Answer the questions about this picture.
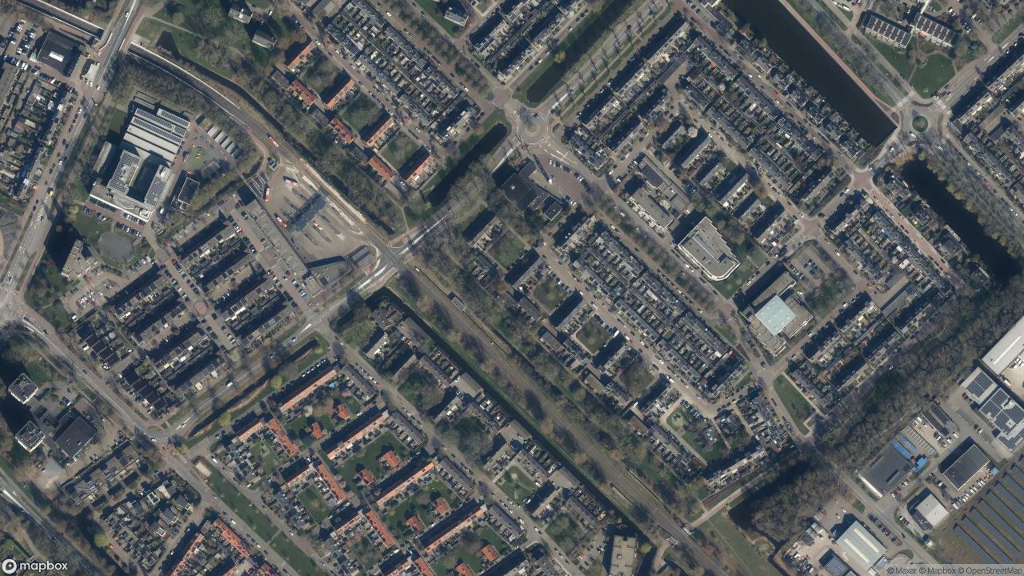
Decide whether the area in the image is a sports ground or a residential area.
residential area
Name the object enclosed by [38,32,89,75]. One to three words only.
building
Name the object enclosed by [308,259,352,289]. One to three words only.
building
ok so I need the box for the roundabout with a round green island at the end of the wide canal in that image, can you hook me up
[901,105,939,143]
